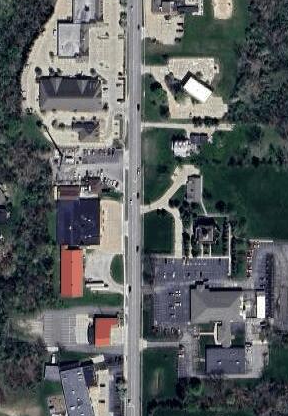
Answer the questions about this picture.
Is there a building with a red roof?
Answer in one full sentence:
Yes, the frame does contain a building with a red roof.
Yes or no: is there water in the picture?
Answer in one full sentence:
No, no water is visible.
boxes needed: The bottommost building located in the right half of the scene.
[191,285,266,375]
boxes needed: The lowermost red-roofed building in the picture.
[94,317,118,348]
